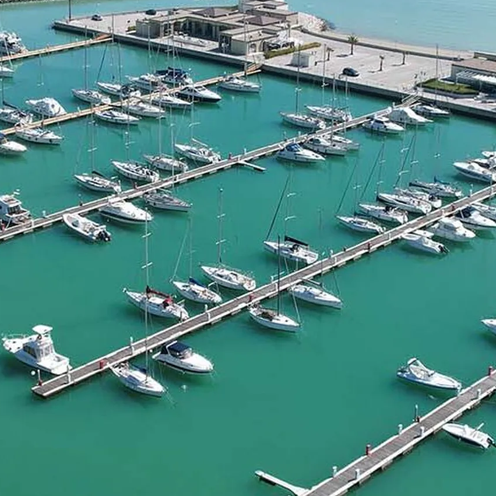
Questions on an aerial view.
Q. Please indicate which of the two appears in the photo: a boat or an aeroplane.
boat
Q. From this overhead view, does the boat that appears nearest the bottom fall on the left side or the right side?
right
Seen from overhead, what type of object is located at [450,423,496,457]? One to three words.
boat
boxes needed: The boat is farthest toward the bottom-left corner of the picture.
[0,321,68,378]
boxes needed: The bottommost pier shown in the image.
[255,470,314,496]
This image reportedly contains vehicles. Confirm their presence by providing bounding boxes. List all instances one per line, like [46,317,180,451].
[141,7,160,15]
[87,11,105,20]
[340,63,362,74]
